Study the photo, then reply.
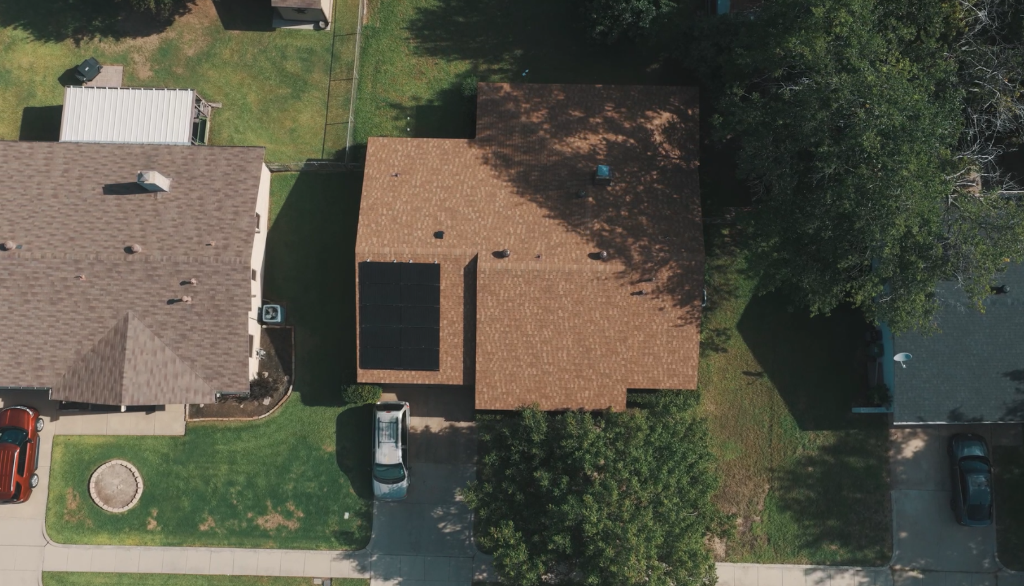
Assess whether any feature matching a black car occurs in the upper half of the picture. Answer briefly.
No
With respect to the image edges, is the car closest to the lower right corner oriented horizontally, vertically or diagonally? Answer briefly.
vertically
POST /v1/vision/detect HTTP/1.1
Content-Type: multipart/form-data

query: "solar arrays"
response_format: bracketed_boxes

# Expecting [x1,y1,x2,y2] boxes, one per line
[358,257,439,372]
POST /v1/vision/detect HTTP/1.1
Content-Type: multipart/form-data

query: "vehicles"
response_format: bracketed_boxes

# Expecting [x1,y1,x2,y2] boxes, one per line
[947,433,997,530]
[366,401,411,504]
[0,407,43,506]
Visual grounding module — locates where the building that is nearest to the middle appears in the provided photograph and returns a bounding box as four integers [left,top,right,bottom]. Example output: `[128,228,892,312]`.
[354,84,708,412]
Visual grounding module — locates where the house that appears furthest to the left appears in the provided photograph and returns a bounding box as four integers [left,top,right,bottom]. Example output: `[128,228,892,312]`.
[0,140,269,412]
